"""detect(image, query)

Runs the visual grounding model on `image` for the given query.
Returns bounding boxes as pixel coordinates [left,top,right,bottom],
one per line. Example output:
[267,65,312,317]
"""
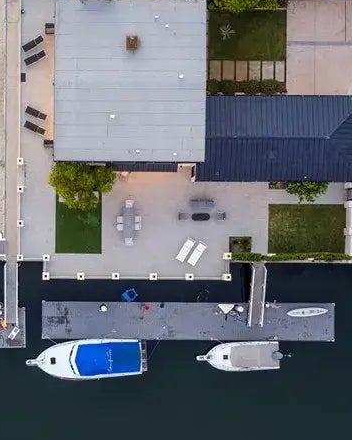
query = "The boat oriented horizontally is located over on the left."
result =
[25,335,160,381]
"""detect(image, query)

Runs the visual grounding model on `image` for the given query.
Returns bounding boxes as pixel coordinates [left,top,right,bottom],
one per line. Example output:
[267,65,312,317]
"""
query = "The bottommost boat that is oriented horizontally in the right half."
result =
[196,339,292,371]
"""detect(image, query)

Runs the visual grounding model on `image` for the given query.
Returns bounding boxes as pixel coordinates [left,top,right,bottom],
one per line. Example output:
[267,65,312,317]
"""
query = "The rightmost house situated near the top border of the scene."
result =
[53,0,206,172]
